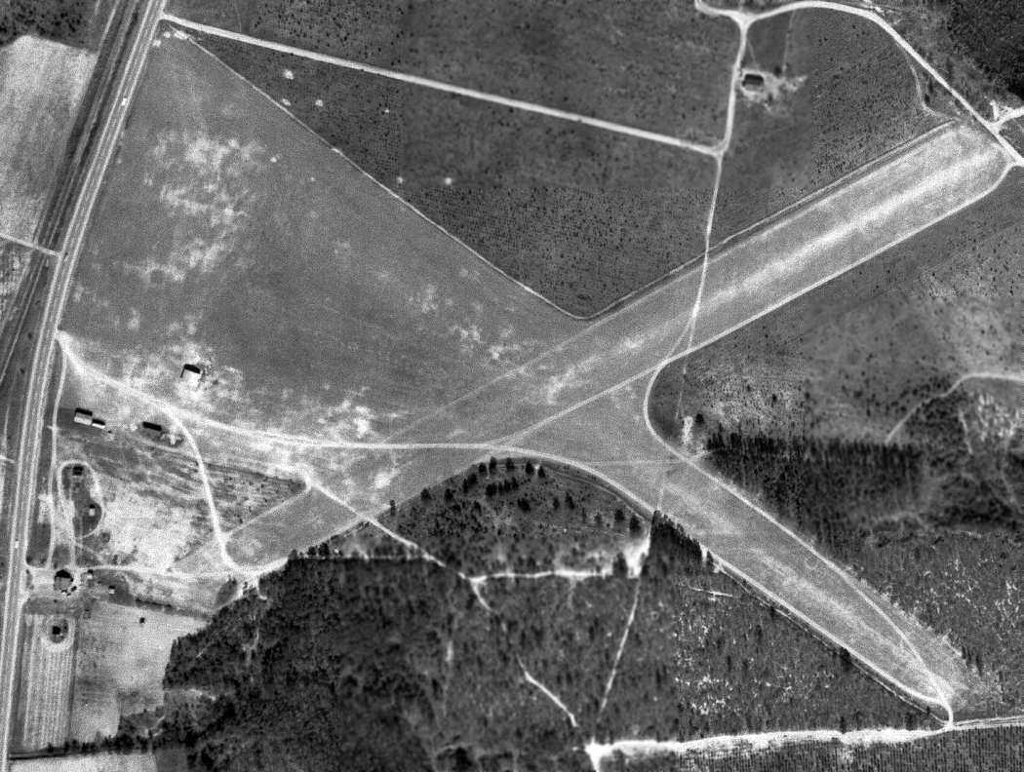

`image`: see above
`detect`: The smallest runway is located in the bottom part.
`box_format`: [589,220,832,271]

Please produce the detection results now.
[553,429,951,698]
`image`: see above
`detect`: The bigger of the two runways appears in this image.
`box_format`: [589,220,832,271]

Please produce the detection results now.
[226,127,1012,568]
